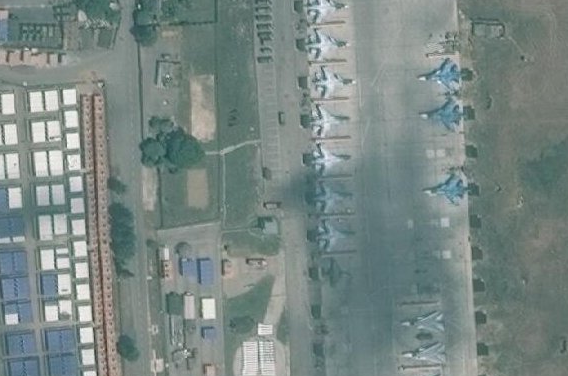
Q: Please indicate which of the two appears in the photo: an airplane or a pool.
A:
airplane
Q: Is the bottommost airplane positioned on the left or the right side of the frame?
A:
right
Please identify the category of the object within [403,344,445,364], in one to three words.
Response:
airplane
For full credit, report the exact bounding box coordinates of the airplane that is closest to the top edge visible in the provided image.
[305,0,348,21]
